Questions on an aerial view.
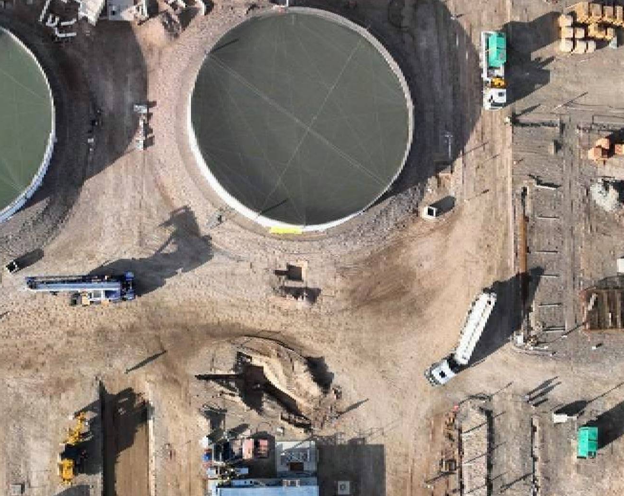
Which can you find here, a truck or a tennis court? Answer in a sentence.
The one in the frame is a truck.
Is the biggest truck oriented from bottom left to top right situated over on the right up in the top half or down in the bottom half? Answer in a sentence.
Seen from above, the biggest truck oriented from bottom left to top right situated over on the right lies in the bottom half of the view.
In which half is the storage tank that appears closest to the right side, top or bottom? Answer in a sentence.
The top half of the photo is where the storage tank that appears closest to the right side is.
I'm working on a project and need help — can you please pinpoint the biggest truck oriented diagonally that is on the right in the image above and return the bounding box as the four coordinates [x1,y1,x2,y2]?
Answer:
[420,281,502,390]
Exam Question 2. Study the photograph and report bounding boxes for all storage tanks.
[0,27,58,231]
[181,0,415,243]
